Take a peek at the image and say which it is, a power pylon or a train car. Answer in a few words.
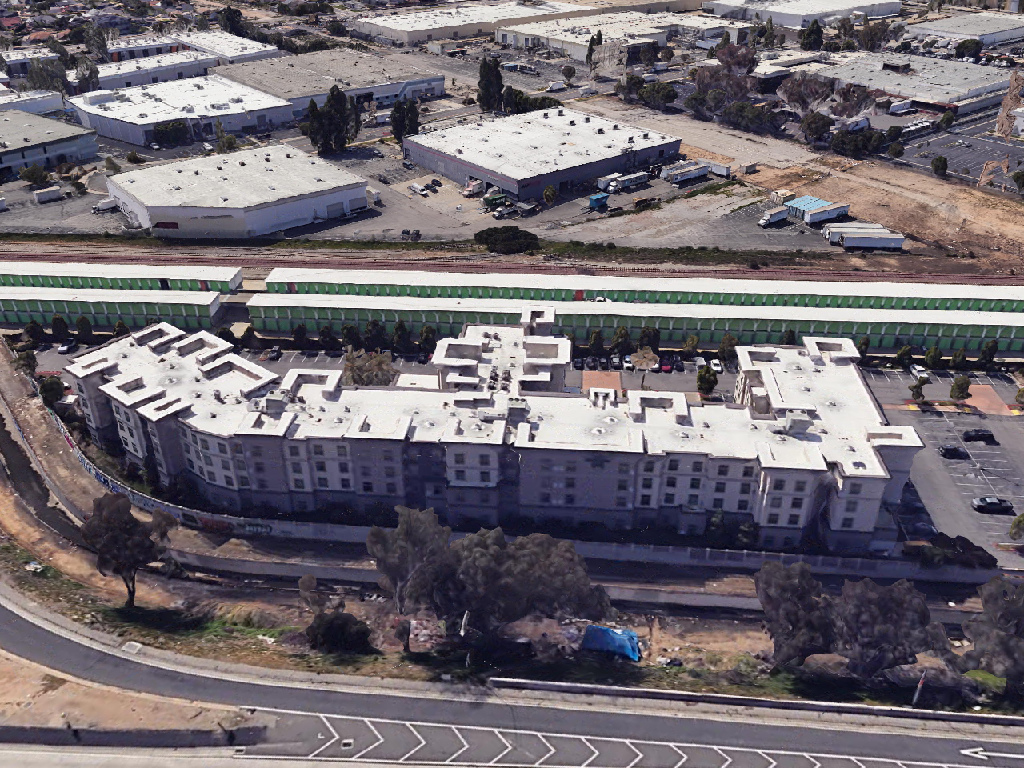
power pylon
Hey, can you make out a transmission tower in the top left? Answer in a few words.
No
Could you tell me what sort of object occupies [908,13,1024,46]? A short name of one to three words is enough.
building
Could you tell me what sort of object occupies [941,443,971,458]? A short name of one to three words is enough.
car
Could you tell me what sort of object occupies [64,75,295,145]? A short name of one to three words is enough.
building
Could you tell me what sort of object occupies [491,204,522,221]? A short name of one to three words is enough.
vehicle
